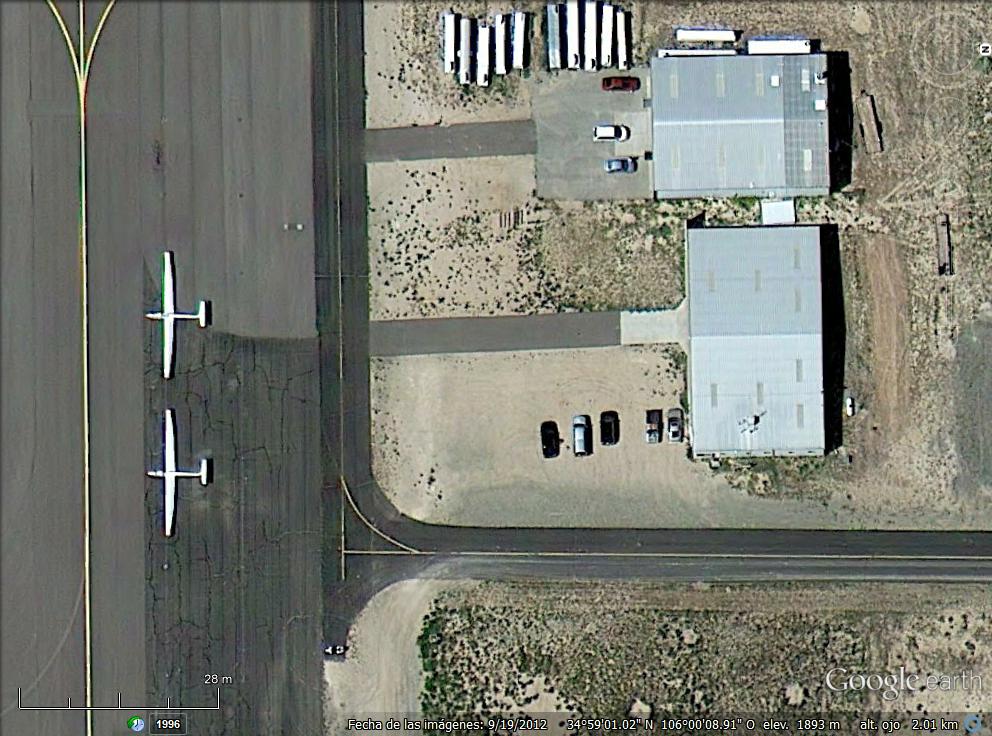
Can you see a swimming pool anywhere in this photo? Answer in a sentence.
No, I can see no swimming pool in this picture.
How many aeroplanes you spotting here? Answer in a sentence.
In total, 2 aeroplanes can be seen.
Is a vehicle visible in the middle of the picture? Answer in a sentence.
Yes, you'll find a vehicle in the middle of the picture.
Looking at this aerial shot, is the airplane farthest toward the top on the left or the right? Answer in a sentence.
The airplane farthest toward the top is on the left side of the image.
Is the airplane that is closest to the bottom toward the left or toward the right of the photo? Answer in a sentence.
The airplane that is closest to the bottom appears in the left half of the scene.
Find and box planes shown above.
[147,409,206,537]
[147,253,205,379]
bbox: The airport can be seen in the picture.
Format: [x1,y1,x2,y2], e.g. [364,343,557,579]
[0,0,447,736]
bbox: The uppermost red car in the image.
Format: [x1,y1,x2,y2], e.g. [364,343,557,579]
[602,77,637,92]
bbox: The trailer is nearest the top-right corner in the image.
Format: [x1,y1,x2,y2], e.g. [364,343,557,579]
[856,90,881,154]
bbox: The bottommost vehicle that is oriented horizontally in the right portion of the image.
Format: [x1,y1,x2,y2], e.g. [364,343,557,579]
[604,158,635,173]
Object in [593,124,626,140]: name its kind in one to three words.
car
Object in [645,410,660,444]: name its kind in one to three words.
vehicle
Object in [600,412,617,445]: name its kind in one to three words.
car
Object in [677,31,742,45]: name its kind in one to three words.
vehicle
